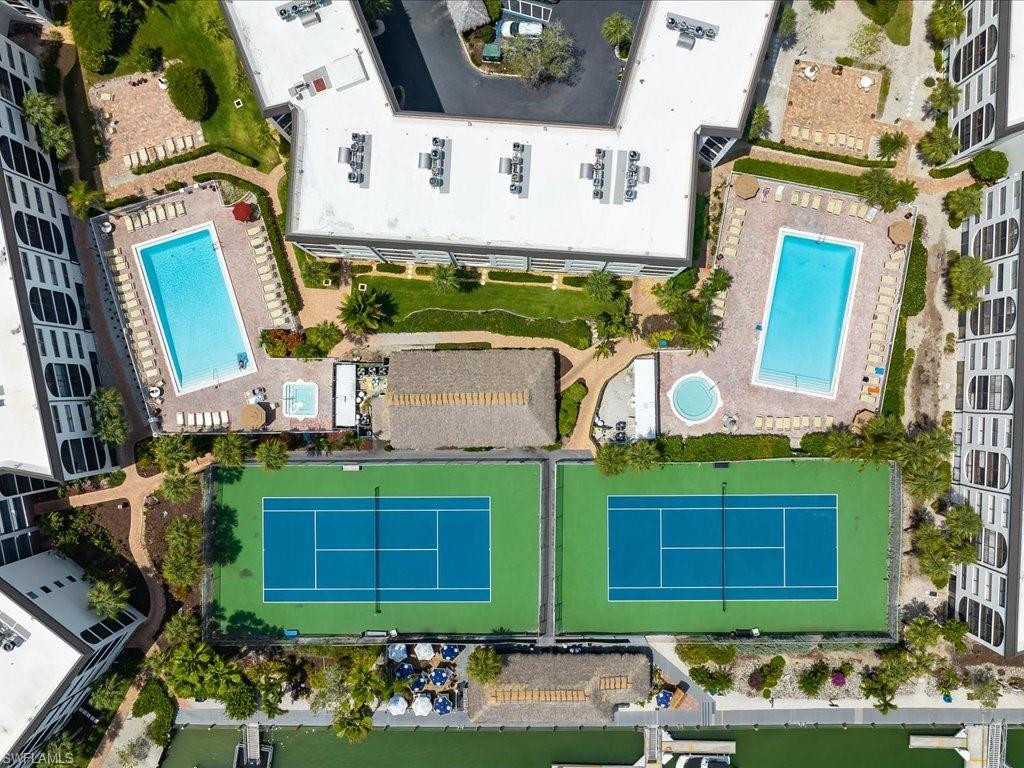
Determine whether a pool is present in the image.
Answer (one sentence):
Yes, a pool appears in the view.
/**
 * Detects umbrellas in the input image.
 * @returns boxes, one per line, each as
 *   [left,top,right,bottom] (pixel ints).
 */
[388,643,407,662]
[733,174,757,198]
[234,201,253,220]
[394,662,413,680]
[408,676,427,695]
[429,668,448,687]
[656,691,672,708]
[441,644,460,662]
[412,696,432,716]
[387,697,407,717]
[890,220,914,244]
[850,408,875,432]
[241,405,265,429]
[415,644,434,662]
[434,696,453,716]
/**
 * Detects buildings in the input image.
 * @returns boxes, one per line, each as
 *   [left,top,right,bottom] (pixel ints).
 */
[948,171,1024,656]
[385,344,560,452]
[0,535,146,768]
[445,0,492,32]
[634,359,655,438]
[0,36,117,481]
[940,0,1024,171]
[336,365,357,426]
[465,650,654,726]
[222,0,776,284]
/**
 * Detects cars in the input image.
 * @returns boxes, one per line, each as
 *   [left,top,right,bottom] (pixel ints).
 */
[546,0,563,6]
[499,18,544,43]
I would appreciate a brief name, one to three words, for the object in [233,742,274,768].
pier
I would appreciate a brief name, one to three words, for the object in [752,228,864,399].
swimming pool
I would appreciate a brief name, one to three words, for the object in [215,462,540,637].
tennis court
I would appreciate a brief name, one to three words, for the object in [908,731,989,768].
pier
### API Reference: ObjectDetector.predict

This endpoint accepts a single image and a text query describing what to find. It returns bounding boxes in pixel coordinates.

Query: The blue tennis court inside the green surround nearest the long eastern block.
[556,460,890,634]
